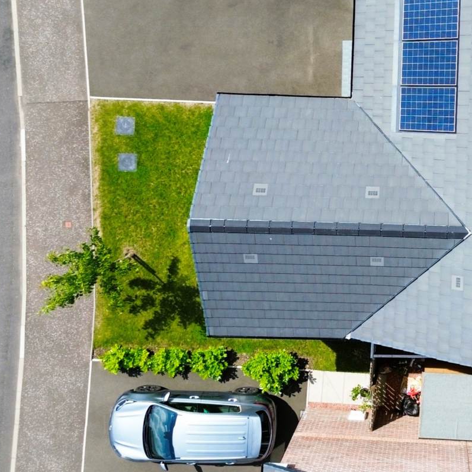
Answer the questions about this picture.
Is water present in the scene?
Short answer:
No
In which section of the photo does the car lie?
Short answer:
bottom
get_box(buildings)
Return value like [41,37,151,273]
[252,405,472,472]
[183,0,472,366]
